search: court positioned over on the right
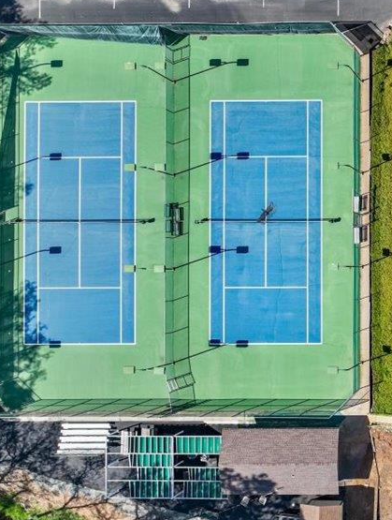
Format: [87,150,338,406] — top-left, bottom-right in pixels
[173,35,358,407]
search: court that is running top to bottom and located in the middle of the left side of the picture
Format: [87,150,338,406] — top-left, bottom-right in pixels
[0,36,173,407]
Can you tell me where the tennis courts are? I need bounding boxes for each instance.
[0,36,173,407]
[173,35,358,407]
